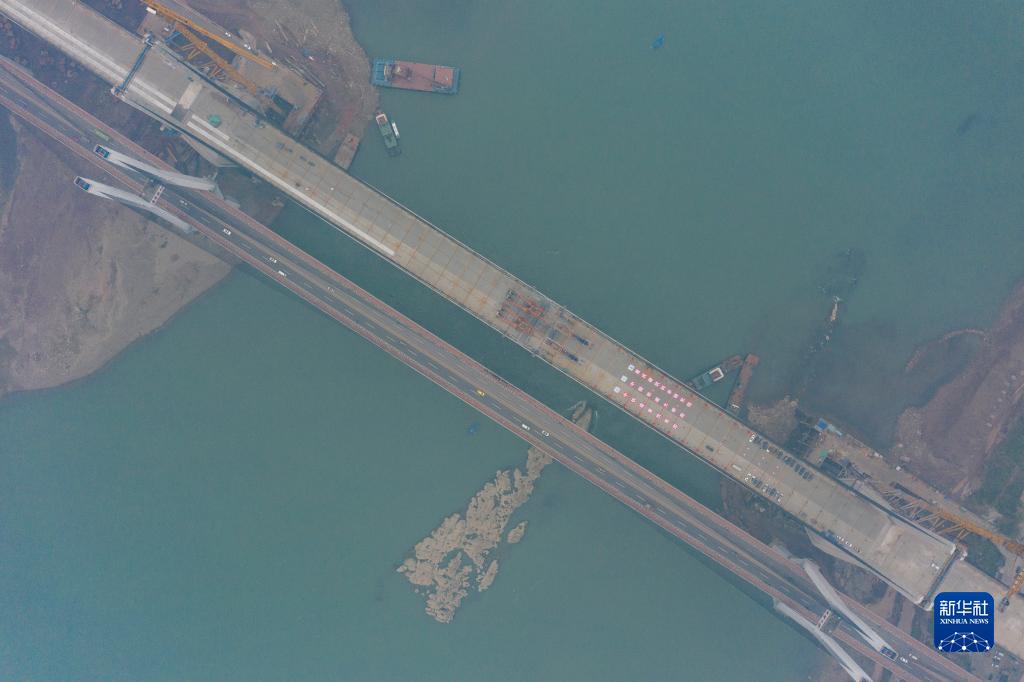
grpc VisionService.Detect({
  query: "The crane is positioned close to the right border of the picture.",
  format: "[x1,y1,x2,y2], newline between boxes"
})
[861,479,1024,606]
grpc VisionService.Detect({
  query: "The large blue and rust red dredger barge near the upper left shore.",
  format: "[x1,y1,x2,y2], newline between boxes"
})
[371,57,460,94]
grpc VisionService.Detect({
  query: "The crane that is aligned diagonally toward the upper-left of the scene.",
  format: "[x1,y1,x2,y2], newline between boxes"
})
[140,0,275,100]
